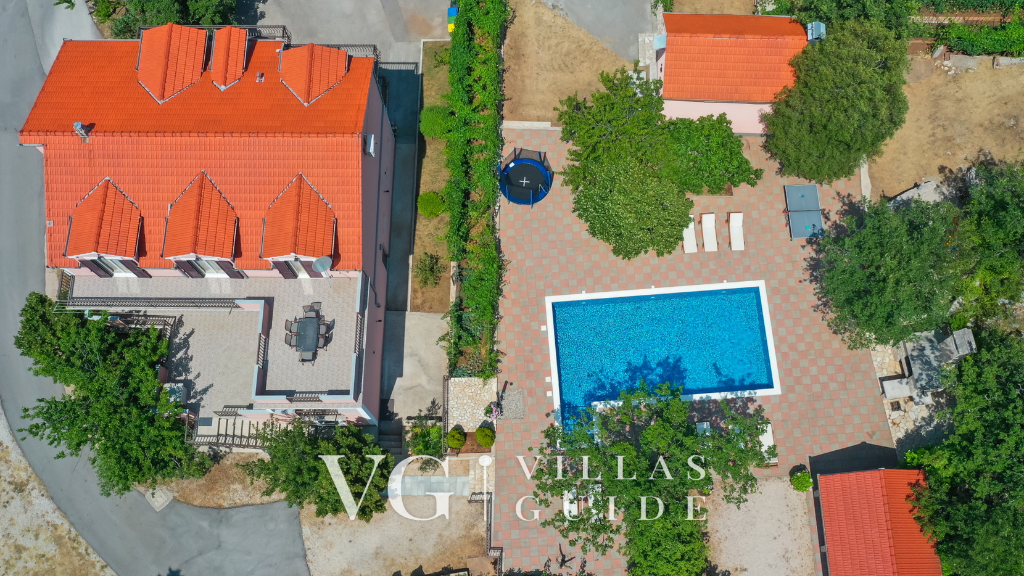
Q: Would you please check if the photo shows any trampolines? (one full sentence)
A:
Yes, a trampoline appears in the view.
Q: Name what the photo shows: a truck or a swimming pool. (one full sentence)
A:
Of the two, only a swimming pool appears.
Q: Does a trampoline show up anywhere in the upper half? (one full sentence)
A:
Yes, in the upper half there is a trampoline.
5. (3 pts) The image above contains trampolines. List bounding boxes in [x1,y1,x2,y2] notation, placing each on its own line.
[496,145,551,210]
